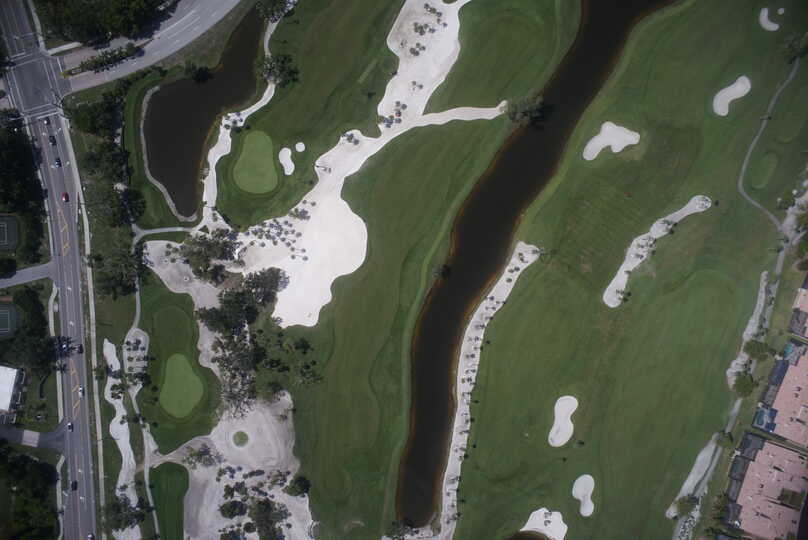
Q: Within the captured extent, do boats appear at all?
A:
No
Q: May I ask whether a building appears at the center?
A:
No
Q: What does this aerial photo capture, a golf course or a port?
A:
golf course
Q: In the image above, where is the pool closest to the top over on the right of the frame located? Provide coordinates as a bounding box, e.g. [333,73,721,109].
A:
[784,343,802,364]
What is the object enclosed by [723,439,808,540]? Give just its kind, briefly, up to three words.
house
